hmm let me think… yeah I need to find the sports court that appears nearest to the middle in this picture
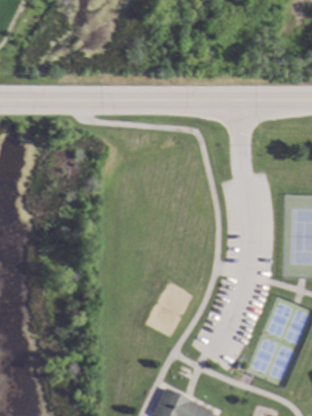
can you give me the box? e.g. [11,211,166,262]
[158,282,193,318]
